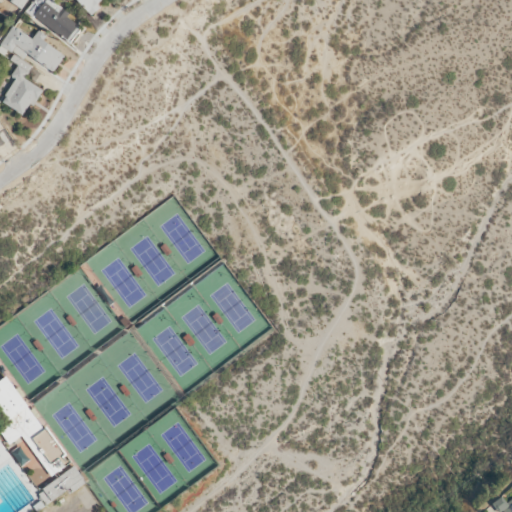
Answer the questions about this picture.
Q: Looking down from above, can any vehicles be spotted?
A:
No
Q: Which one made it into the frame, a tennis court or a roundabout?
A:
tennis court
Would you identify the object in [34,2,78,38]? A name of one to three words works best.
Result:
house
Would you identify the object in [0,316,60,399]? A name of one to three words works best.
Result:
tennis court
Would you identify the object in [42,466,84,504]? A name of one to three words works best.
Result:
building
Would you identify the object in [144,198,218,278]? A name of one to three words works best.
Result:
tennis court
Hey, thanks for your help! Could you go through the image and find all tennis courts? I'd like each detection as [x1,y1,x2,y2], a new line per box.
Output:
[144,198,218,278]
[116,220,189,300]
[118,429,188,506]
[64,353,147,444]
[98,329,179,420]
[148,408,217,484]
[194,263,271,348]
[33,378,114,468]
[17,290,94,374]
[86,242,160,322]
[0,316,60,399]
[136,307,212,391]
[164,286,241,370]
[50,268,123,348]
[82,451,159,512]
